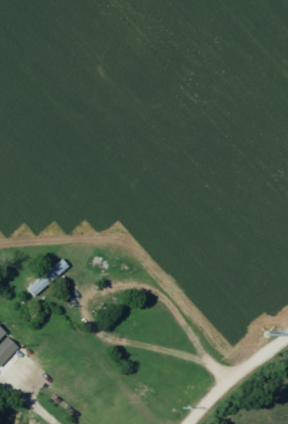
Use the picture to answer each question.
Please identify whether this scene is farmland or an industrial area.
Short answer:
farmland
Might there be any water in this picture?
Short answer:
No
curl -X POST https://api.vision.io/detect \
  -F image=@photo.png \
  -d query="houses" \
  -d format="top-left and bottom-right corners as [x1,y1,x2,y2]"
[0,336,20,366]
[27,258,70,297]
